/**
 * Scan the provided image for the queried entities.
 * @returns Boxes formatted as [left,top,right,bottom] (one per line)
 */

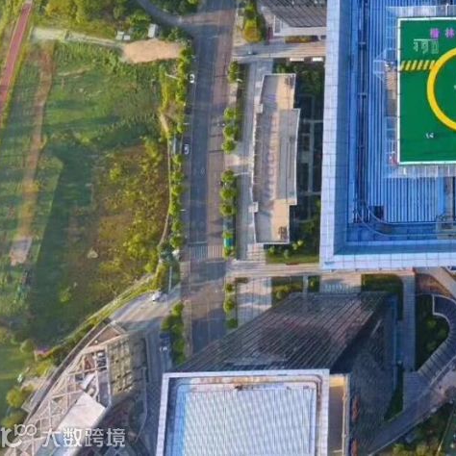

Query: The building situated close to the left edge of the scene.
[4,309,155,456]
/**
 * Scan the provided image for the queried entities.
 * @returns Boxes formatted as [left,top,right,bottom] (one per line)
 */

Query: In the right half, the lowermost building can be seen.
[156,297,406,456]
